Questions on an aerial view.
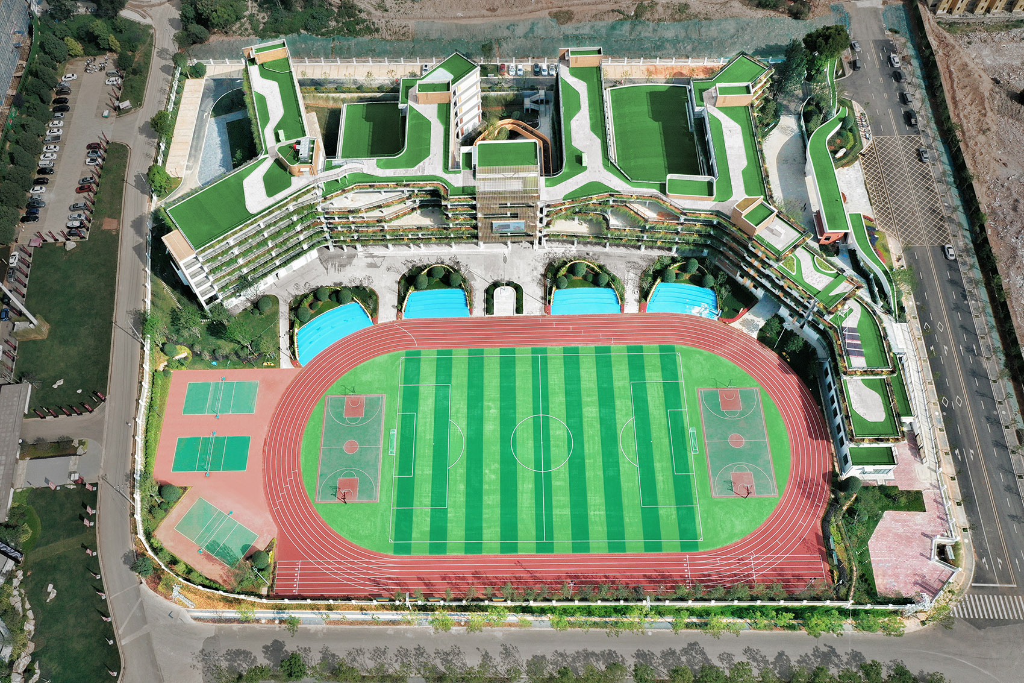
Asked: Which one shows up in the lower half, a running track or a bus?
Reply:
running track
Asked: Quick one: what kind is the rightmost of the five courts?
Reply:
basketball court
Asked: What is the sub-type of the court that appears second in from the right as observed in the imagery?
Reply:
basketball court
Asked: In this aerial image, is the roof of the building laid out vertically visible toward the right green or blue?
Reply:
green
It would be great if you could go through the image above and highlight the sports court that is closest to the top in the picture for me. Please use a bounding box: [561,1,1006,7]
[182,381,259,415]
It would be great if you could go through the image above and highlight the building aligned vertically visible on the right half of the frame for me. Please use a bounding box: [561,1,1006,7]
[799,106,849,245]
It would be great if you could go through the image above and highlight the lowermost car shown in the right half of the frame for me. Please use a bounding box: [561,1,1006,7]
[944,244,956,260]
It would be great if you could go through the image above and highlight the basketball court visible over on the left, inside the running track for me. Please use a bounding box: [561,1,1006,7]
[313,394,387,504]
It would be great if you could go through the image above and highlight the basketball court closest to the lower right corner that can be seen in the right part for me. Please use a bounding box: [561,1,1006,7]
[697,388,779,498]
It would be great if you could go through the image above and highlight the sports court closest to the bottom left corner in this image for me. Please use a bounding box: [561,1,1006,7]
[174,497,259,568]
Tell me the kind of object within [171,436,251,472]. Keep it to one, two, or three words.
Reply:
sports court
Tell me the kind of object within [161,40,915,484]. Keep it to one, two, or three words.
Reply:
building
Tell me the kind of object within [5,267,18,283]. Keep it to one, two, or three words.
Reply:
vehicle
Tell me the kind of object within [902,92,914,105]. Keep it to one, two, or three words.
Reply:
vehicle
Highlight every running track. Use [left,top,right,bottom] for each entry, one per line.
[263,315,837,597]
